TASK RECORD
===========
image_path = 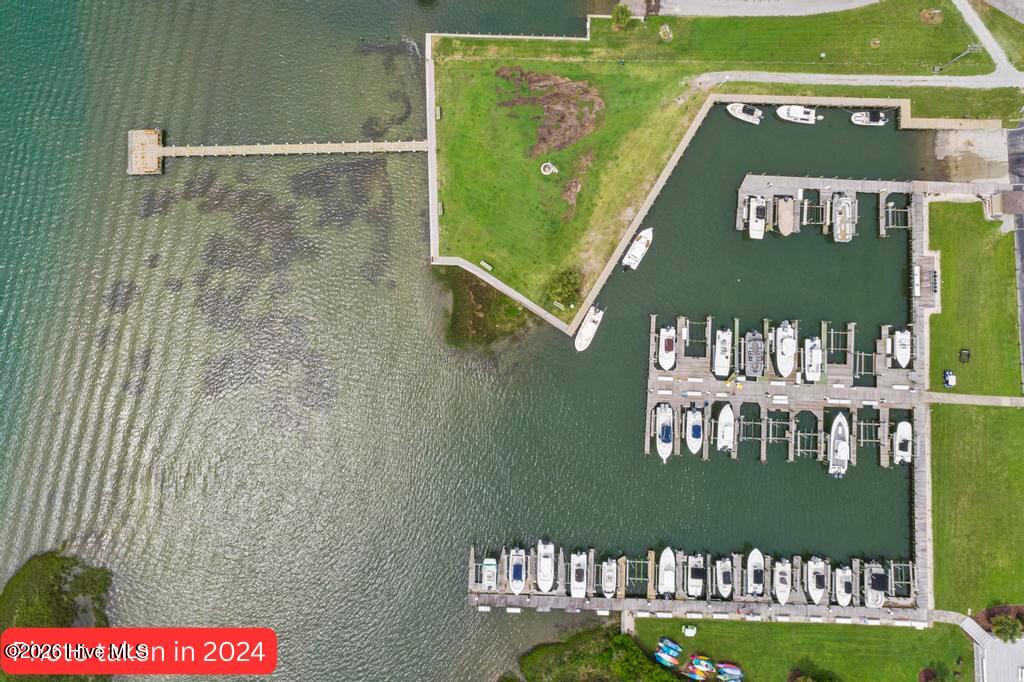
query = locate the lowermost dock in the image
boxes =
[469,543,928,625]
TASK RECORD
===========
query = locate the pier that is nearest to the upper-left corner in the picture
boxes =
[124,126,428,178]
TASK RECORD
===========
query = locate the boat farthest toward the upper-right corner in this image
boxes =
[847,112,890,125]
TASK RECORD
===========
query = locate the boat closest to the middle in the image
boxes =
[576,301,606,350]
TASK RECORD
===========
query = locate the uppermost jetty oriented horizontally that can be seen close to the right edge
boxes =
[732,173,1010,239]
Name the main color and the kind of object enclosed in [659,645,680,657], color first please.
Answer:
blue boat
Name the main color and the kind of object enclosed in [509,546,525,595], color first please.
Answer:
white boat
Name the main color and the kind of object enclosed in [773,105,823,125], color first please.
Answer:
white boat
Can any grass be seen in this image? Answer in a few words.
Yes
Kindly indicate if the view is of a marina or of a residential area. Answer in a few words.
marina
